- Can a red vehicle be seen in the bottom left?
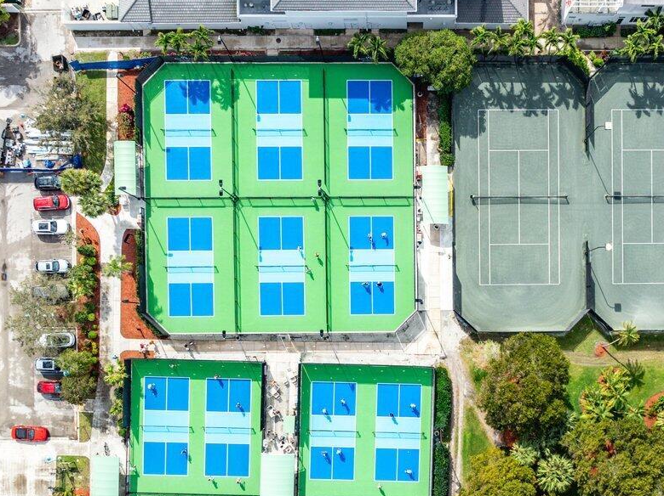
Yes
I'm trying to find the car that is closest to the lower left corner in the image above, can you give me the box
[12,425,51,442]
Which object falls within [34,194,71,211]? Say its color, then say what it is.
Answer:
red car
